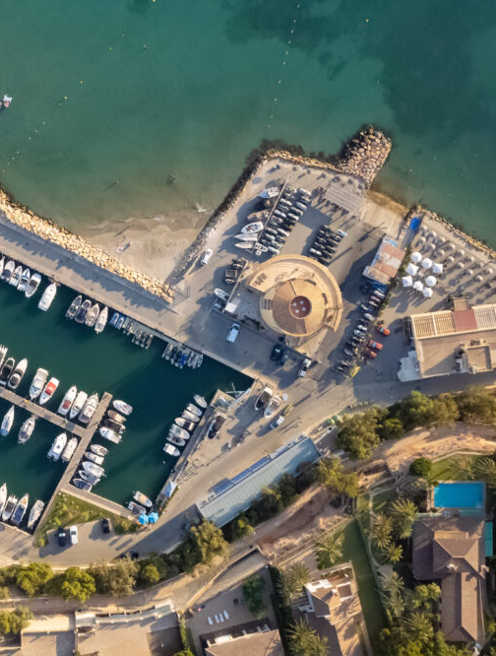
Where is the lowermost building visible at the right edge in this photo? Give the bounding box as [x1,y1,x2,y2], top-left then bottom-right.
[409,509,494,642]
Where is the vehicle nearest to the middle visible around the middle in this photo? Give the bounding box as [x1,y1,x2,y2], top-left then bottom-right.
[227,322,240,342]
